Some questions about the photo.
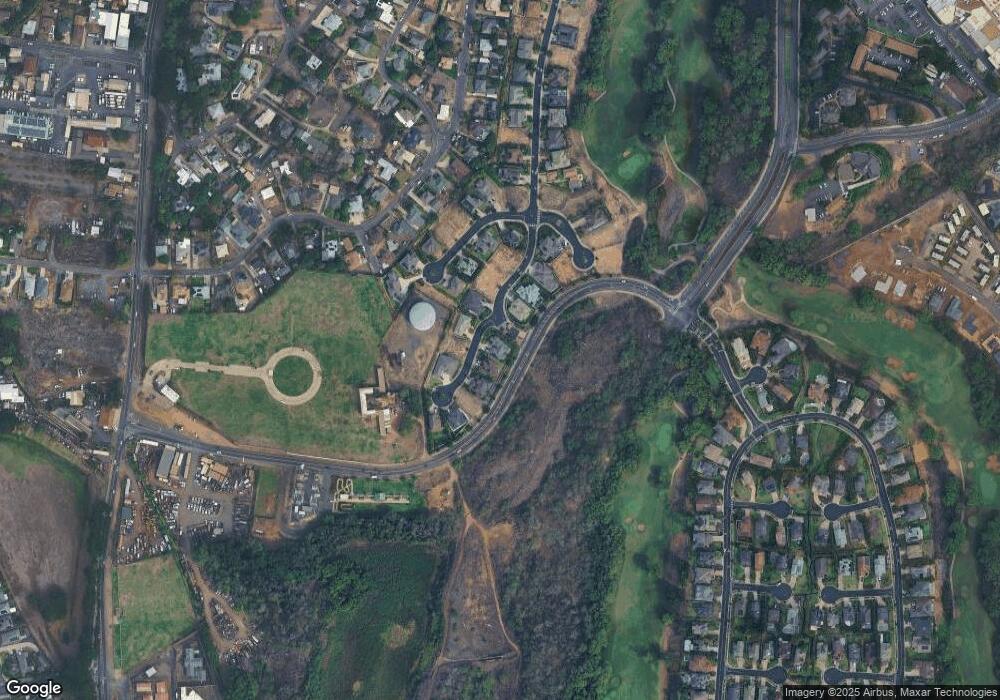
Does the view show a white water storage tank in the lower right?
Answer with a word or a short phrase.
No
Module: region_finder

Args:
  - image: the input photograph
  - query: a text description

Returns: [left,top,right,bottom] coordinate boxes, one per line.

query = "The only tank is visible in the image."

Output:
[408,302,441,329]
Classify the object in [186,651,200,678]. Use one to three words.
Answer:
building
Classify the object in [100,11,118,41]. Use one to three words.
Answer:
building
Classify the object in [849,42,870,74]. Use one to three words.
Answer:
house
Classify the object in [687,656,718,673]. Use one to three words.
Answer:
house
